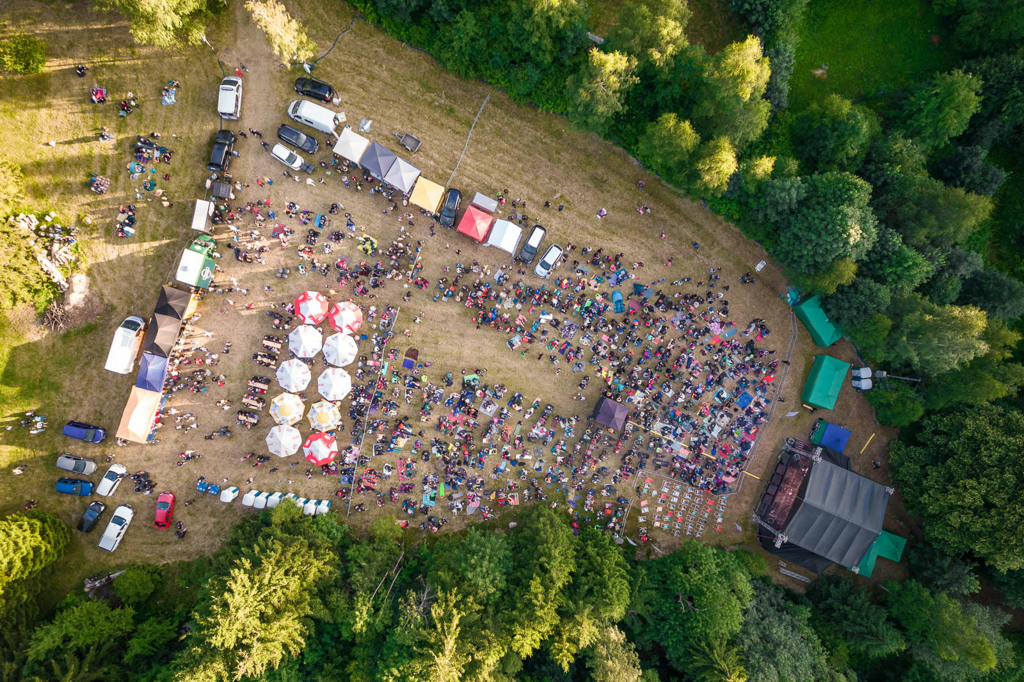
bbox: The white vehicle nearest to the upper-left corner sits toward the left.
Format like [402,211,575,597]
[219,78,246,124]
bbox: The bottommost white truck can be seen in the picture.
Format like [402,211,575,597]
[100,501,139,552]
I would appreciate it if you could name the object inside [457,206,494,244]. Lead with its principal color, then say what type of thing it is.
red gazebo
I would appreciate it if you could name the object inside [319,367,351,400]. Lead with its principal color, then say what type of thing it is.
white umbrella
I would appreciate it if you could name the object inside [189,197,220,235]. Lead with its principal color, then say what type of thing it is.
white trailer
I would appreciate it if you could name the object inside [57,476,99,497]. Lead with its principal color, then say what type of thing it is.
blue car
